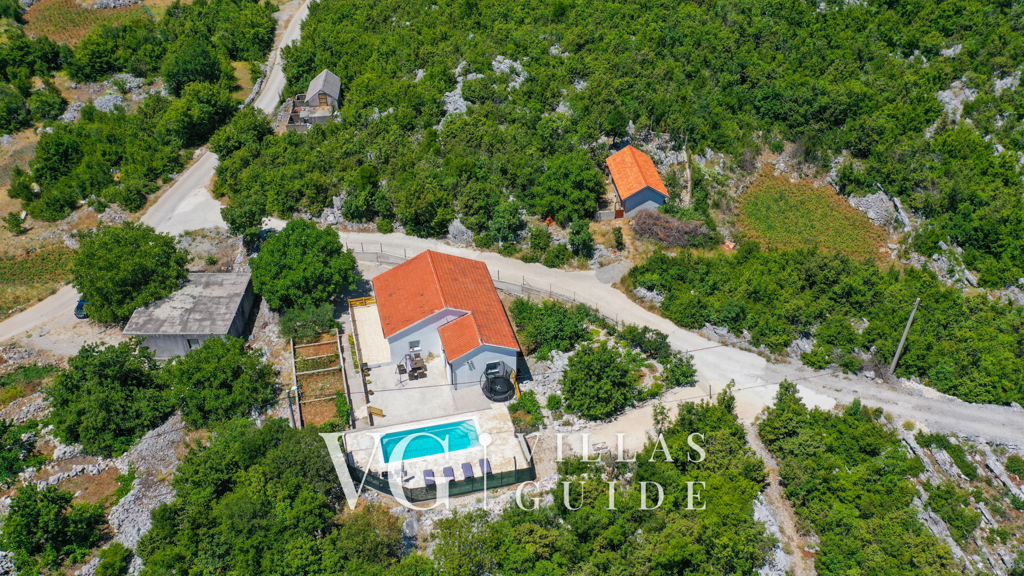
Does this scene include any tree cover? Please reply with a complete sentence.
Yes, the picture does contain tree cover.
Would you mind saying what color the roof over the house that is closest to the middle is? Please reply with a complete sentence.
From above, the roof of the house that is closest to the middle looks orange.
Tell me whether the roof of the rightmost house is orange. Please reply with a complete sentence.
Yes, the roof of the rightmost house is indeed orange.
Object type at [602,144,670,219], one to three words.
house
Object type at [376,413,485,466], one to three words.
swimming pool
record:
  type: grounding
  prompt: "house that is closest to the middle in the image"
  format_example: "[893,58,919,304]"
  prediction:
[374,250,521,389]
